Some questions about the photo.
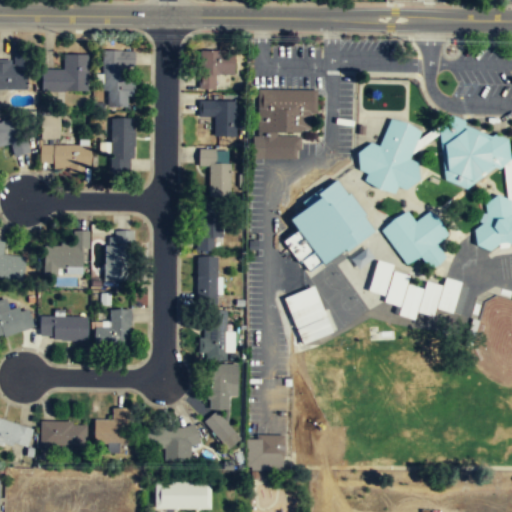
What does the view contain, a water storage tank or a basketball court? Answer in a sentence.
The one in the frame is a basketball court.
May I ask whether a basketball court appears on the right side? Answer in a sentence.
Yes, on the right side there is a basketball court.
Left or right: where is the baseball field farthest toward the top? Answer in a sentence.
You can find the baseball field farthest toward the top on the right side of the picture.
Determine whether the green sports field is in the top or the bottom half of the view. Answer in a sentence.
Seen from above, the green sports field lies in the bottom half of the view.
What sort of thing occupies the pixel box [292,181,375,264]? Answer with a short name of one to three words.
building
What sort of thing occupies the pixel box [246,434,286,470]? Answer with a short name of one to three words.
building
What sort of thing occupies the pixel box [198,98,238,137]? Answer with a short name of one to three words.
house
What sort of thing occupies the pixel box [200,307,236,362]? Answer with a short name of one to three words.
house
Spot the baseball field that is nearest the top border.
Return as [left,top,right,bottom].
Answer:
[473,294,512,388]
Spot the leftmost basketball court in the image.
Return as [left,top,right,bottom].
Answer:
[318,266,368,328]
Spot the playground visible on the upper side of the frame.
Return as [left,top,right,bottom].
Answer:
[361,82,408,112]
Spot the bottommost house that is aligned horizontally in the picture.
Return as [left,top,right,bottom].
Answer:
[156,483,212,510]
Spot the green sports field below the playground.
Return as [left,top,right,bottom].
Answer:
[295,317,512,466]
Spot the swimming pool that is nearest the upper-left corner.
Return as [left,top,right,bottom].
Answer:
[10,94,34,106]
